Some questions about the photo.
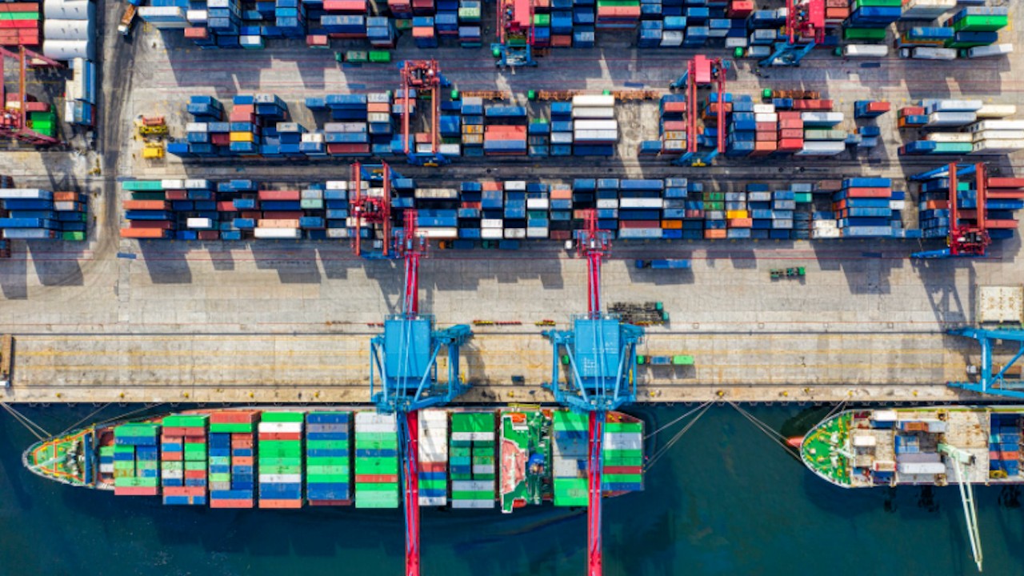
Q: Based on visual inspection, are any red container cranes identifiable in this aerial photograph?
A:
Yes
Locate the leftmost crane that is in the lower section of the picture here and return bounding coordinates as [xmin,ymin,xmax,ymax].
[367,210,476,576]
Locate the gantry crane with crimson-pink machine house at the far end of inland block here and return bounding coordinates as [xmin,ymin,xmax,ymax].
[757,0,826,69]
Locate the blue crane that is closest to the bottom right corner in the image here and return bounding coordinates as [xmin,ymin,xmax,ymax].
[948,326,1024,403]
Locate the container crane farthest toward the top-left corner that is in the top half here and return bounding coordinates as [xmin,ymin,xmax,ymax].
[0,46,75,145]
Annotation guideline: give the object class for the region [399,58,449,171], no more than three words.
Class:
container crane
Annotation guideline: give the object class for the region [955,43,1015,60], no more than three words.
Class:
vehicle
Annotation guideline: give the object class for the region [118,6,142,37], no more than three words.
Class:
truck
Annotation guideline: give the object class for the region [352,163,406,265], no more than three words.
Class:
container crane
